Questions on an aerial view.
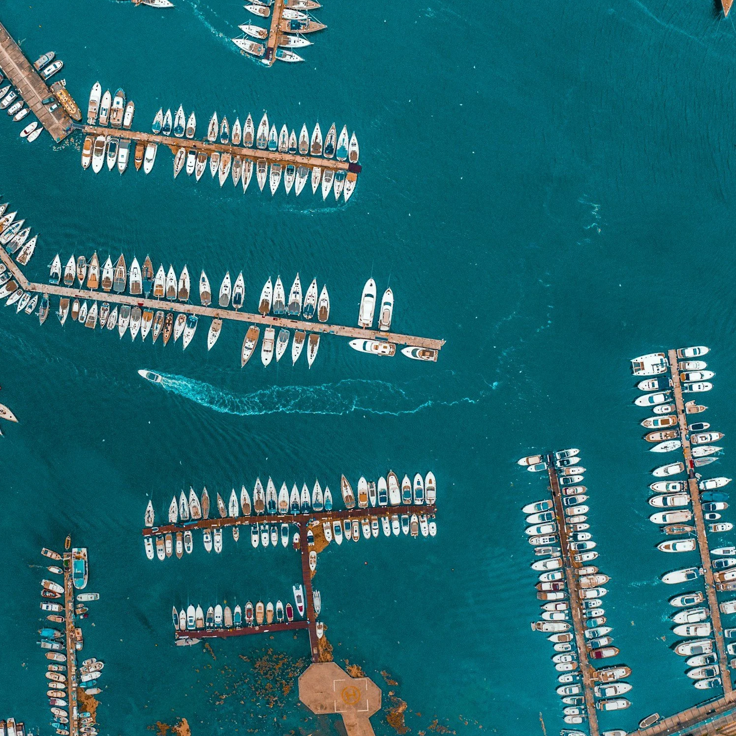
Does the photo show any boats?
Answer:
Yes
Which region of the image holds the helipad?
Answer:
bottom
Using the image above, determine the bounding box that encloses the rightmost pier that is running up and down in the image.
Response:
[668,349,732,695]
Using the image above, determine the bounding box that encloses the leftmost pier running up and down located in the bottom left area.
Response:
[64,552,78,736]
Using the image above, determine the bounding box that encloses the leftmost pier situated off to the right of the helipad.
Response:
[547,454,597,736]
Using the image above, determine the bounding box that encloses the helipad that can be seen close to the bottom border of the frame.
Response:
[298,662,382,736]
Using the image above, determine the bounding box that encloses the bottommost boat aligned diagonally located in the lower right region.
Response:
[640,712,662,728]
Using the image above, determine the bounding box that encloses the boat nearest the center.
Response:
[348,339,399,359]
